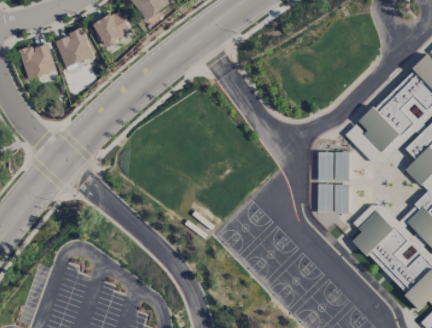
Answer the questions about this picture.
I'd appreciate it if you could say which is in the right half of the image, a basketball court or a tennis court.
basketball court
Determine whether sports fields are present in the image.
Yes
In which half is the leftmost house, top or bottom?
top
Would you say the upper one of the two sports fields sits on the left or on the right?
right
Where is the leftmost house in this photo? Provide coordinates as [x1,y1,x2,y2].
[19,43,58,80]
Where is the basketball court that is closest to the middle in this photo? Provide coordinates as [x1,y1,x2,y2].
[218,201,274,256]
